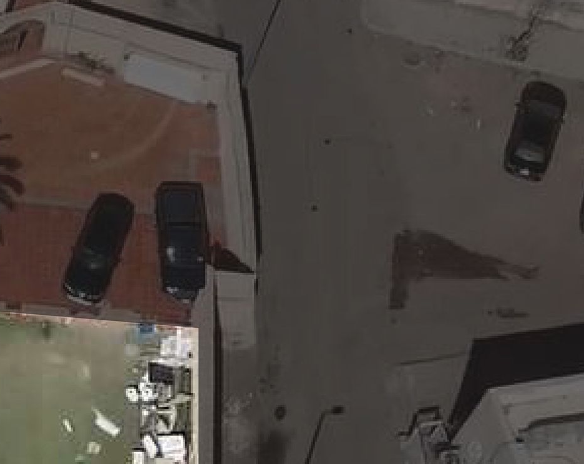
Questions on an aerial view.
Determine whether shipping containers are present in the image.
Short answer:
No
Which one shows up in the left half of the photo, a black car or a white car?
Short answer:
black car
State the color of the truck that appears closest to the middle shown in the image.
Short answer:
black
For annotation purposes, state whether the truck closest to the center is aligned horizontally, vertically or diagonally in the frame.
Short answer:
vertically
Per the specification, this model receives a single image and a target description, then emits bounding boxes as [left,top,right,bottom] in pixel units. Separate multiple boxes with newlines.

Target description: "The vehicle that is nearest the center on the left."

[156,183,211,303]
